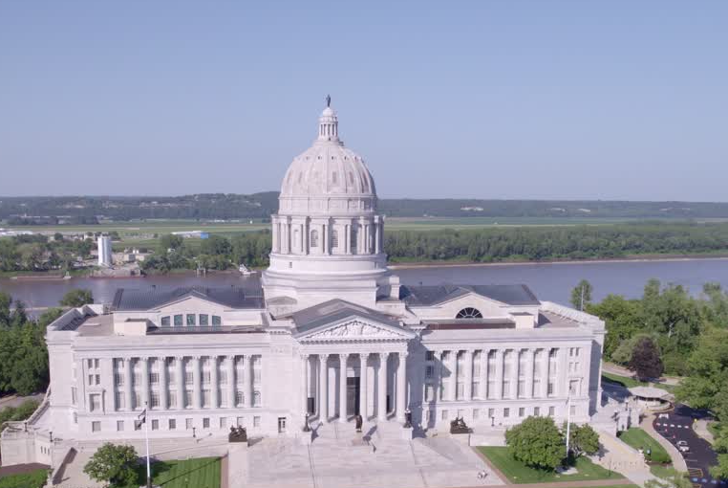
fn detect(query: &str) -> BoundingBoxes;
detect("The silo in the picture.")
[98,233,112,267]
